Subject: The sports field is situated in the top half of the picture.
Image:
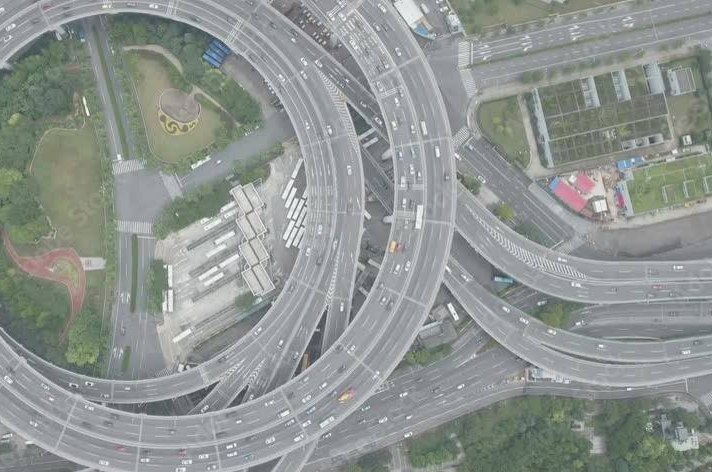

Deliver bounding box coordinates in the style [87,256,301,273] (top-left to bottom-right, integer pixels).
[630,153,712,213]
